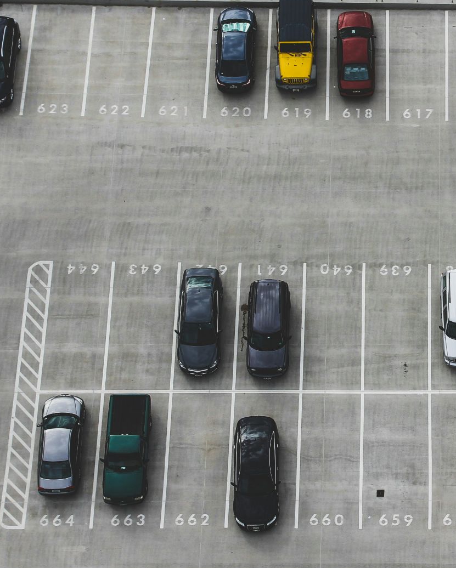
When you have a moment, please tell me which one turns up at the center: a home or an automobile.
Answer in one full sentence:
Looking at the center, you will find an automobile.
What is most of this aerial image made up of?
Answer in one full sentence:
The scene is dominated by paved ground.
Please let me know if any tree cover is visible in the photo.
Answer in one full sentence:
No, tree cover can't be seen anywhere here.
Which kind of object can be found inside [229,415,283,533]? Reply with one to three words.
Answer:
car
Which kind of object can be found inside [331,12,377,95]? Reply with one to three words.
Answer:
car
